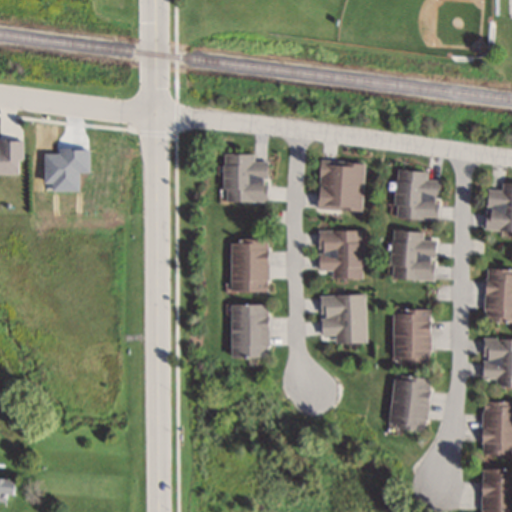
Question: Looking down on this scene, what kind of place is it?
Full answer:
What you see here is a residential area.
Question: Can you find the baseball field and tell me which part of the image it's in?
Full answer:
The baseball field sits in the top right section of the image.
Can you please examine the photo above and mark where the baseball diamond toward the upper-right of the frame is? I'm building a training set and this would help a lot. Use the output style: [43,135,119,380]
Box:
[418,0,486,51]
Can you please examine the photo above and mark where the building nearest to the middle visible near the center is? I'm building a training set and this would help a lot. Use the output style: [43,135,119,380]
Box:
[226,238,269,294]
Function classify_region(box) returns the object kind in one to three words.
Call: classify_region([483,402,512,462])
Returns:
house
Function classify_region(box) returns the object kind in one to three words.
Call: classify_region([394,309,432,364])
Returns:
house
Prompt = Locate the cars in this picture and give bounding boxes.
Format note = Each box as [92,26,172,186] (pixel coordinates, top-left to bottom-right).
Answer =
[429,169,434,179]
[435,166,440,178]
[270,339,283,344]
[431,406,442,411]
[468,423,480,428]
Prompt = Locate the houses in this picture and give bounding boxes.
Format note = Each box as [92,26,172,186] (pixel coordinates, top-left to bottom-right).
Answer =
[394,230,436,281]
[483,402,512,462]
[390,377,432,432]
[44,148,90,192]
[486,268,512,320]
[226,238,269,294]
[220,154,268,206]
[388,170,442,220]
[317,159,367,212]
[0,480,16,509]
[483,468,512,512]
[394,309,432,364]
[320,230,364,280]
[486,183,512,232]
[0,136,19,176]
[322,294,368,345]
[484,338,512,388]
[226,303,269,360]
